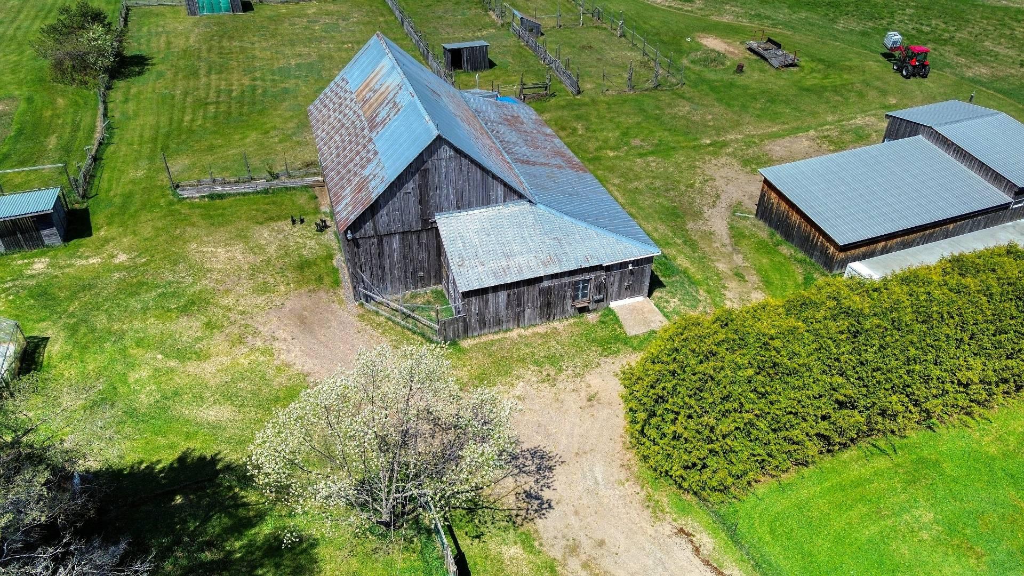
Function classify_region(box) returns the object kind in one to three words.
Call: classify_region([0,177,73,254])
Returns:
shed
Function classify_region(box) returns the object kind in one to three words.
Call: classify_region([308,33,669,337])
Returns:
barn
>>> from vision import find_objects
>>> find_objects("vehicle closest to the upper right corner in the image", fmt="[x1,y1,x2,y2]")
[892,40,939,79]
